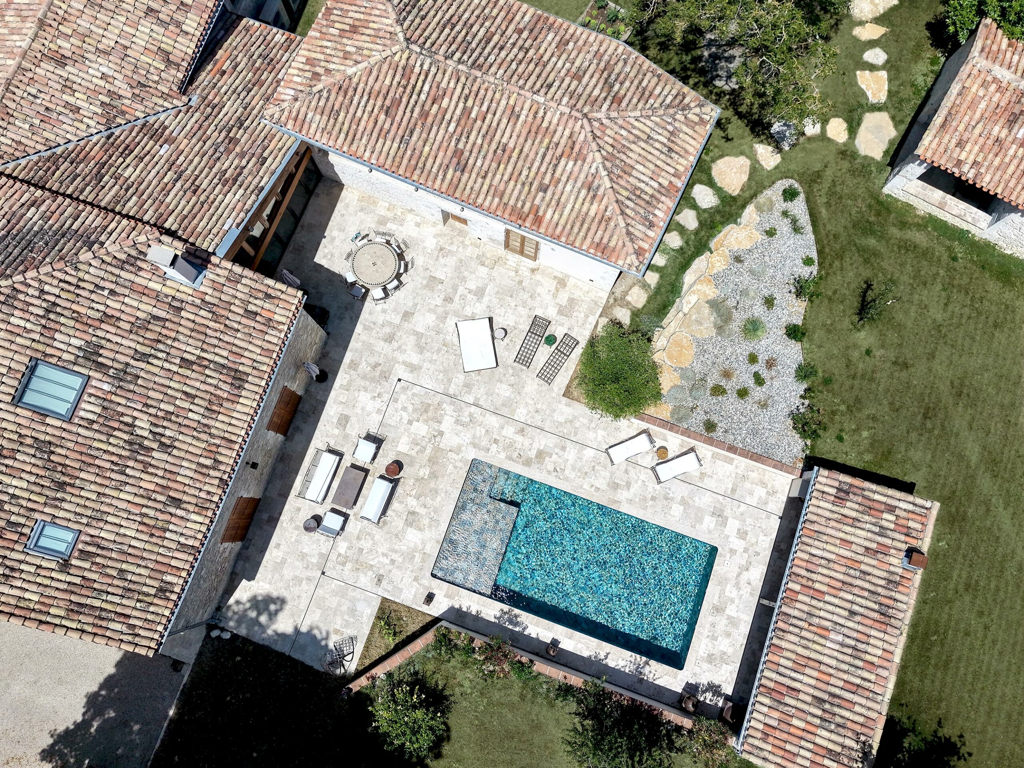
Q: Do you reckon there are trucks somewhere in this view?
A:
No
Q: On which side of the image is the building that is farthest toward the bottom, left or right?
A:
right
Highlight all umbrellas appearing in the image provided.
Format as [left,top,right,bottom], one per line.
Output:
[304,360,328,383]
[285,271,310,297]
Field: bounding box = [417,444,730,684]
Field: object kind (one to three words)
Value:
swimming pool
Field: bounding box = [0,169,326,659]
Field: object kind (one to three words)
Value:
house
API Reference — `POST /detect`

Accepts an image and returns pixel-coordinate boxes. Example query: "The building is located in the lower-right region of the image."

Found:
[730,464,942,768]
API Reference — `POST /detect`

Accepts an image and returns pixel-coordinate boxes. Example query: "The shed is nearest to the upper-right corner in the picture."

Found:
[884,18,1024,256]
